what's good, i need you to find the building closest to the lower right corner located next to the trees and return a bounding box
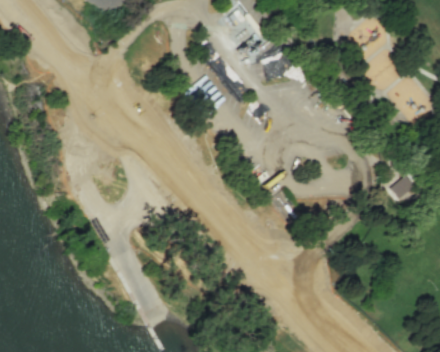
[388,172,415,202]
